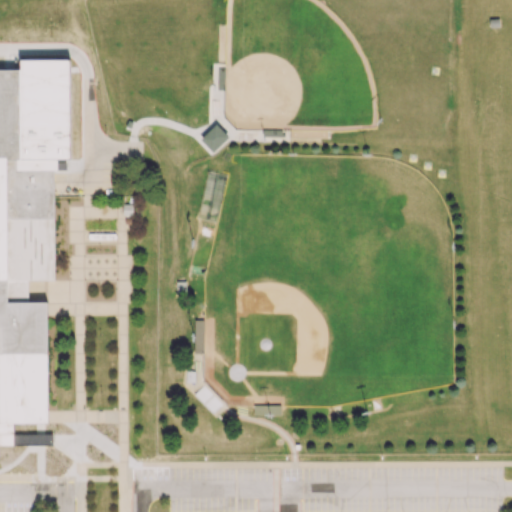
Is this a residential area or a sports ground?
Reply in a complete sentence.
The area seen from above is a sports ground.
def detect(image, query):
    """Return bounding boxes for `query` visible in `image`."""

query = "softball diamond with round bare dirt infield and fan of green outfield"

[219,0,378,142]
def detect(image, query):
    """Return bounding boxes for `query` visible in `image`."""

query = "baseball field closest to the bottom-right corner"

[204,152,455,408]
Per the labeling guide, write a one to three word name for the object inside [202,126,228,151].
building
